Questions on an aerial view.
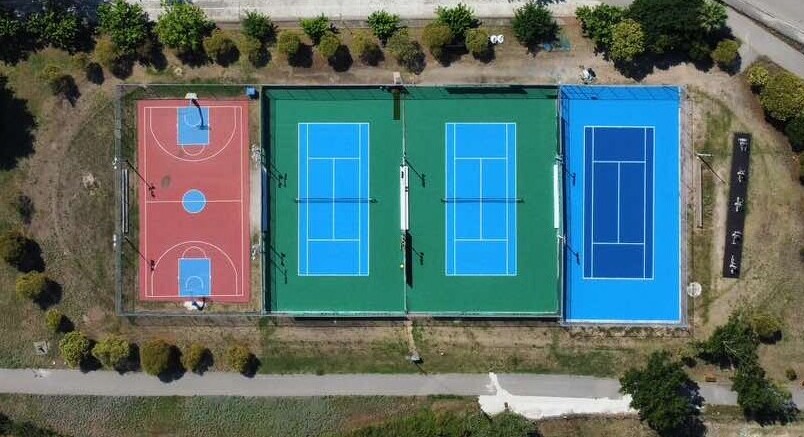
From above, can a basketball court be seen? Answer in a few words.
Yes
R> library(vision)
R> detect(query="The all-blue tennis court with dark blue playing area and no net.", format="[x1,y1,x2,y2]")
[561,88,681,321]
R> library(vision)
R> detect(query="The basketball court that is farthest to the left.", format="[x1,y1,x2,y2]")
[137,98,250,301]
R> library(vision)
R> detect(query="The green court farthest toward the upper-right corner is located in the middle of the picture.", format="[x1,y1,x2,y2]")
[405,88,558,312]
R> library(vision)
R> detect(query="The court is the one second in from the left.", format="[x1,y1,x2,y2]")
[264,88,405,312]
